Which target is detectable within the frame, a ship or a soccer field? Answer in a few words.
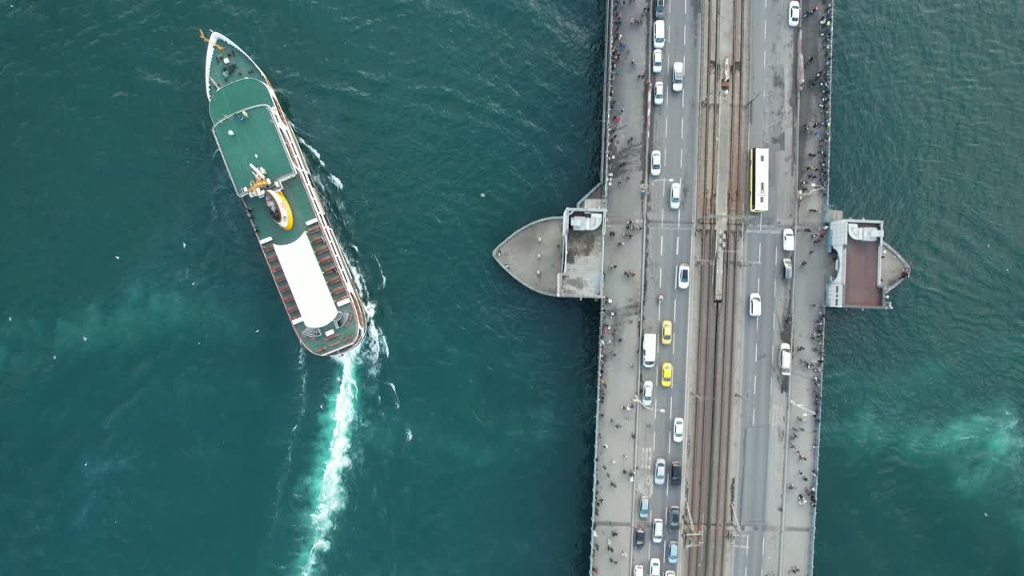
ship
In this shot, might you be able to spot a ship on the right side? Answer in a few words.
No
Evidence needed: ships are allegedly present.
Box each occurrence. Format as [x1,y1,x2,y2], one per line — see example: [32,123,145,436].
[199,28,367,355]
